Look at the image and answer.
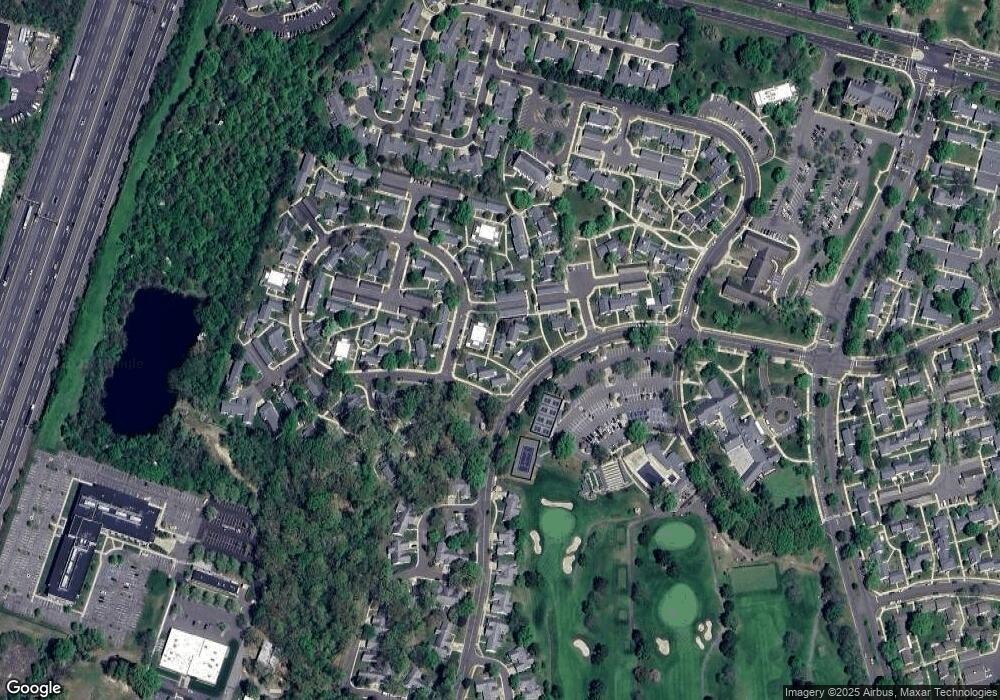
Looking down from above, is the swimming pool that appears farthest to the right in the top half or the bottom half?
bottom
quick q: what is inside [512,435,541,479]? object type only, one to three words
tennis court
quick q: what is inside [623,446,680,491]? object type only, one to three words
swimming pool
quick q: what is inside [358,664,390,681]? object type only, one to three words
house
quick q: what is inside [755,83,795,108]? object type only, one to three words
building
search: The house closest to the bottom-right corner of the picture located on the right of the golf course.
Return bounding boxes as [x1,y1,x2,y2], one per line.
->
[962,665,990,686]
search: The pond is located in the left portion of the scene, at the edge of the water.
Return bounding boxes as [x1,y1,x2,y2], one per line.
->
[103,287,203,435]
